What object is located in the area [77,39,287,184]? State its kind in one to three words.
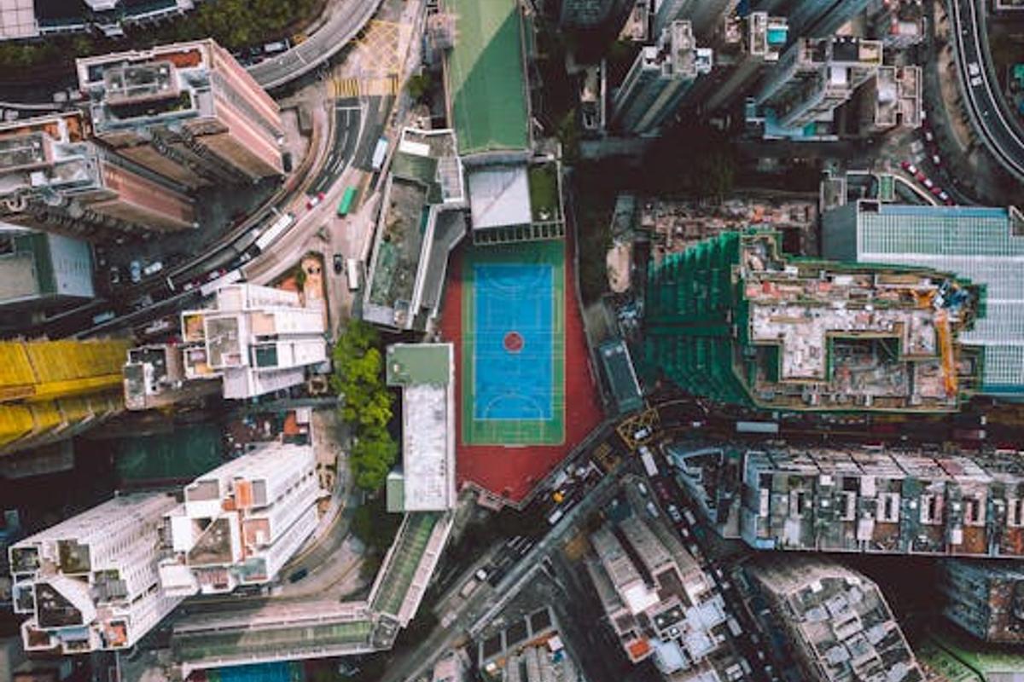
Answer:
building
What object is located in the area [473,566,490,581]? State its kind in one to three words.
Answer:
car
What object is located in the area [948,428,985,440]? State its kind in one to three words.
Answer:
vehicle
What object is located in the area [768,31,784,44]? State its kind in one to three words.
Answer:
swimming pool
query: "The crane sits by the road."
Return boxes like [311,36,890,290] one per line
[913,279,970,395]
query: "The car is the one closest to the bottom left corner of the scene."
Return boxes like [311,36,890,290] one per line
[289,565,310,583]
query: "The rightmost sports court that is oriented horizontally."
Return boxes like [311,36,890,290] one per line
[178,655,328,682]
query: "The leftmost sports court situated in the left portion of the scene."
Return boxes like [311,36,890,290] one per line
[111,416,228,484]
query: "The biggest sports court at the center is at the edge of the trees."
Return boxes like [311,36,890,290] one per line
[437,223,605,504]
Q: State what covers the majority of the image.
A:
buildings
